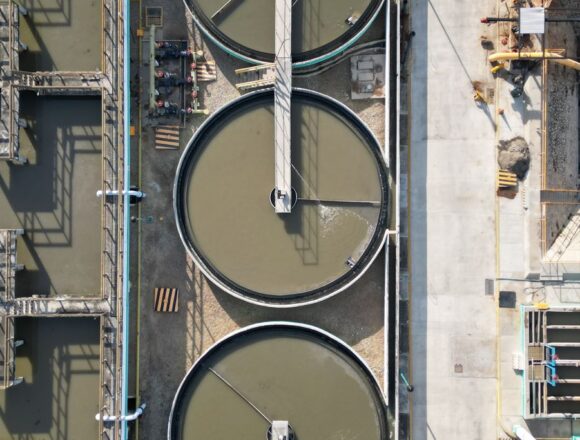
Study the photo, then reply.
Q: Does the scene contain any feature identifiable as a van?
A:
No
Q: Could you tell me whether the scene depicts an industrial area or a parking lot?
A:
industrial area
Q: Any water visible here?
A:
Yes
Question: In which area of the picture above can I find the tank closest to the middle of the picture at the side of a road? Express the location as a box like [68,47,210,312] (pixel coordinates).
[173,88,390,306]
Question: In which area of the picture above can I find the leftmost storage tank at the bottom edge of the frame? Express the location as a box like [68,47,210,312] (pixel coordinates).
[169,319,386,440]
